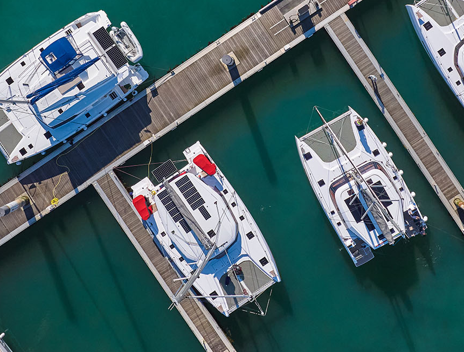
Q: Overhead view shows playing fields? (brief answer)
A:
No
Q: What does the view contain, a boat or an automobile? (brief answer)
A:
boat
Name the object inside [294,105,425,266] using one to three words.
boat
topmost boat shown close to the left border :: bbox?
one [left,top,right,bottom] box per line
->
[0,11,152,163]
